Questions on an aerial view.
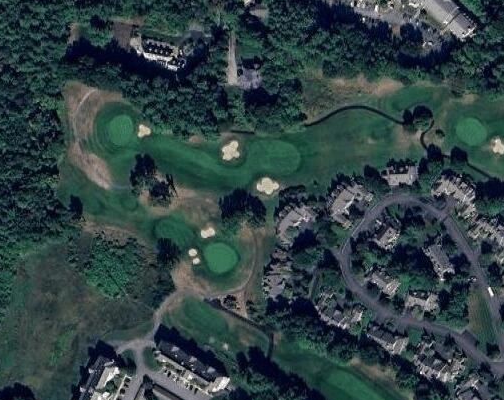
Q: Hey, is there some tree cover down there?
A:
Yes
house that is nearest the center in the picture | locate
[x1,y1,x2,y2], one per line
[271,203,316,249]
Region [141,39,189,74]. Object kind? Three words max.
house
